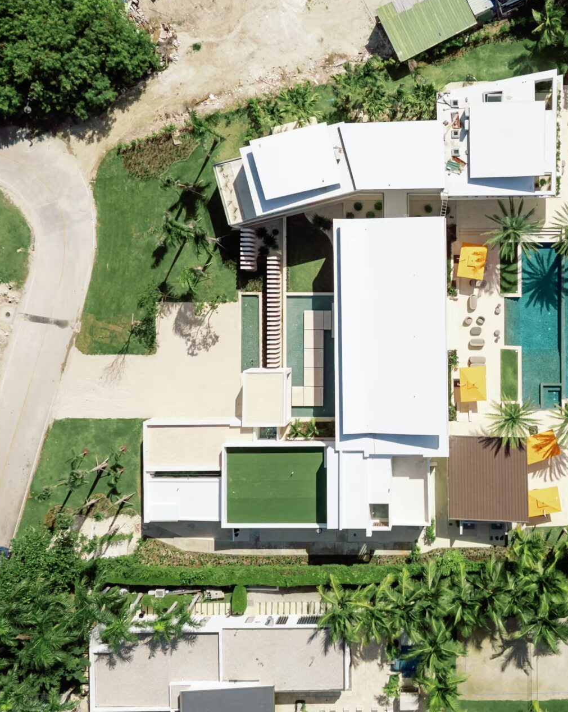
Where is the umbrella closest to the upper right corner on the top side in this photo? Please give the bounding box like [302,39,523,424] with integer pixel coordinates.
[454,244,488,280]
